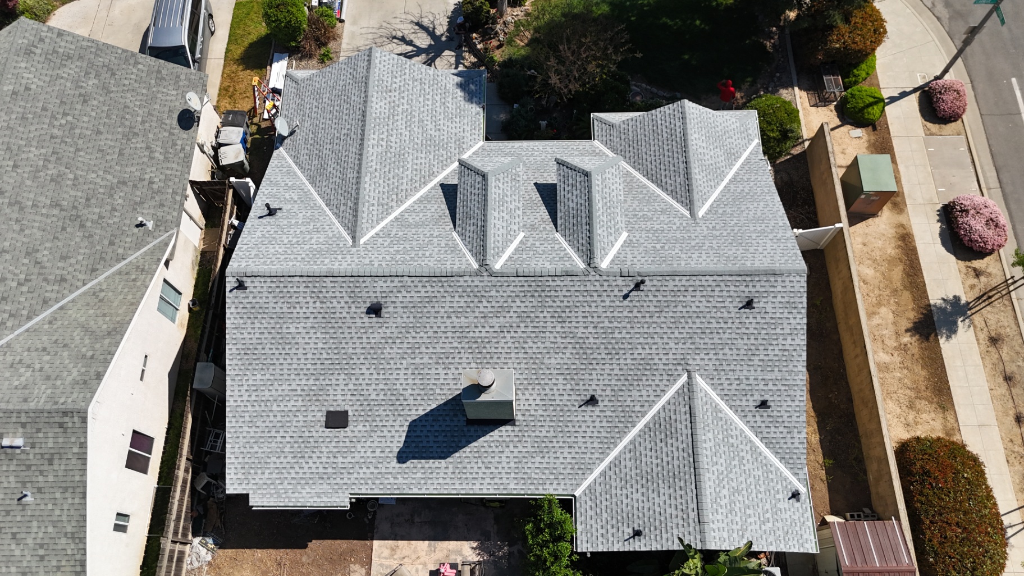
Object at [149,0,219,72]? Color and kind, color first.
gray car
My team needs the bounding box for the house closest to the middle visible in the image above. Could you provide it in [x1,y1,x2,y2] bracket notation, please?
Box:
[225,47,821,553]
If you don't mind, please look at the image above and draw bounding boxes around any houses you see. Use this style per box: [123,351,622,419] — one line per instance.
[225,47,821,553]
[0,17,219,576]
